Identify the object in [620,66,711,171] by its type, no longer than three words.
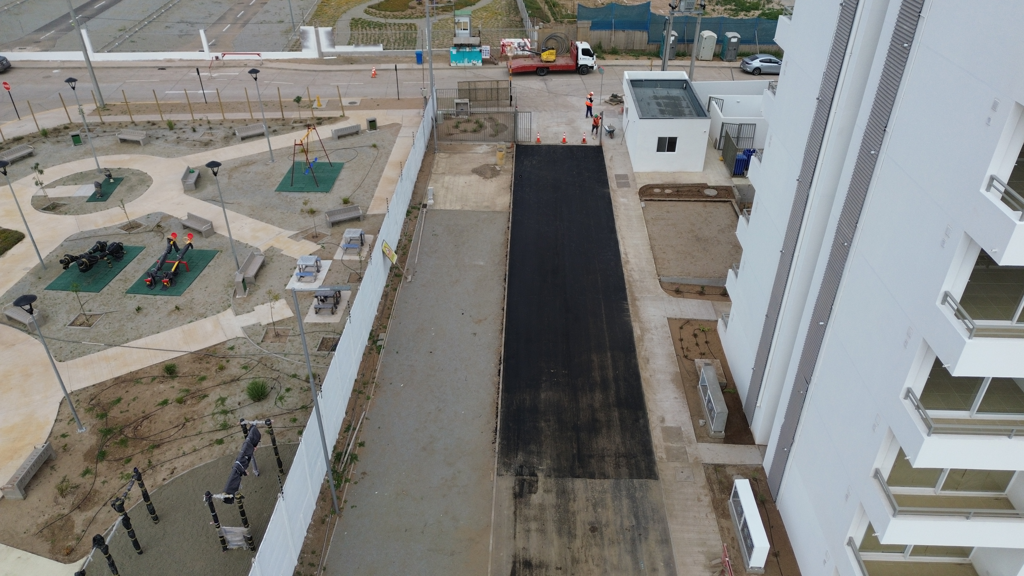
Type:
building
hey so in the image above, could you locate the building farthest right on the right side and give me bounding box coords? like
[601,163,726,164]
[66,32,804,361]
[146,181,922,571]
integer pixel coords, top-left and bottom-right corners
[718,0,1024,576]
